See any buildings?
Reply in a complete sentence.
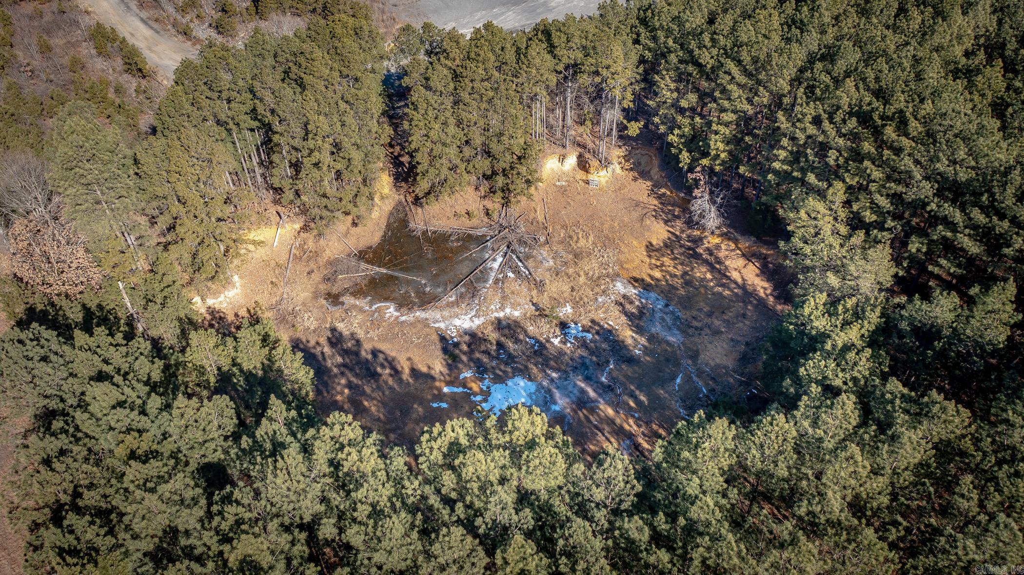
No, the photo shows no building.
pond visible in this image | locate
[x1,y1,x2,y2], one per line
[324,217,519,313]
